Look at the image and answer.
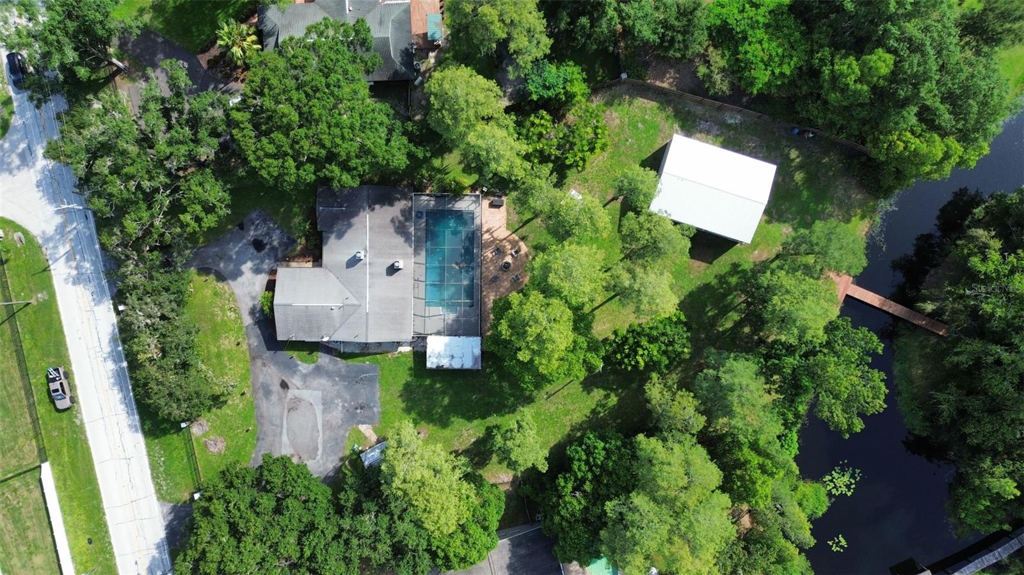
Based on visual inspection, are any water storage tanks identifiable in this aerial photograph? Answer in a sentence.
No, there is no water storage tank in the image.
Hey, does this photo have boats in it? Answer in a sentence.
No, I find no boat anywhere in the image.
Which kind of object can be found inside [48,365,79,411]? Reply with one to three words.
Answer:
truck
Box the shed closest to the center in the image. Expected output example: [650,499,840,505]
[427,337,481,370]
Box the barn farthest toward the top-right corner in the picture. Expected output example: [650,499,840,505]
[646,134,776,245]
